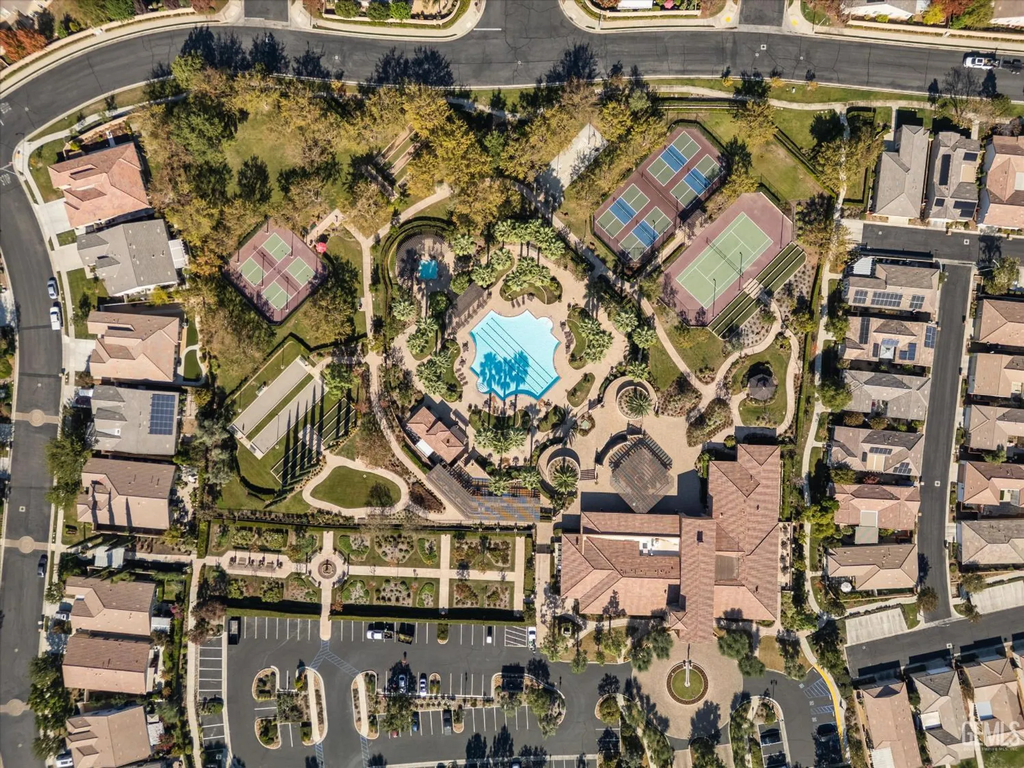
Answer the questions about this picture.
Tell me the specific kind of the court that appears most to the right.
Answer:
tennis court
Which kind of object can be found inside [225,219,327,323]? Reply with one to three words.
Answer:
sports court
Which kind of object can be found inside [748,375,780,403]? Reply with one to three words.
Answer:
gazebo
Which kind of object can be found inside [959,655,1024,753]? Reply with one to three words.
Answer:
house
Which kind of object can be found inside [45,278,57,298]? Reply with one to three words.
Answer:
vehicle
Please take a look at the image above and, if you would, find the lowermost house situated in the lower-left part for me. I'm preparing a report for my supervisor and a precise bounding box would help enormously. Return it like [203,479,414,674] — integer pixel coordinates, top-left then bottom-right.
[65,703,156,768]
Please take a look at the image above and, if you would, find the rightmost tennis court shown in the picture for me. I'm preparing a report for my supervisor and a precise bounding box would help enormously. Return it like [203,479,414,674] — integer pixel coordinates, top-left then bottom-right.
[662,192,793,326]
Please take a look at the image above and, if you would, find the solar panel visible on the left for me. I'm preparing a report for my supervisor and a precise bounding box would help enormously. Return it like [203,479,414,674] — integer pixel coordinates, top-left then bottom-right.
[150,394,175,435]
